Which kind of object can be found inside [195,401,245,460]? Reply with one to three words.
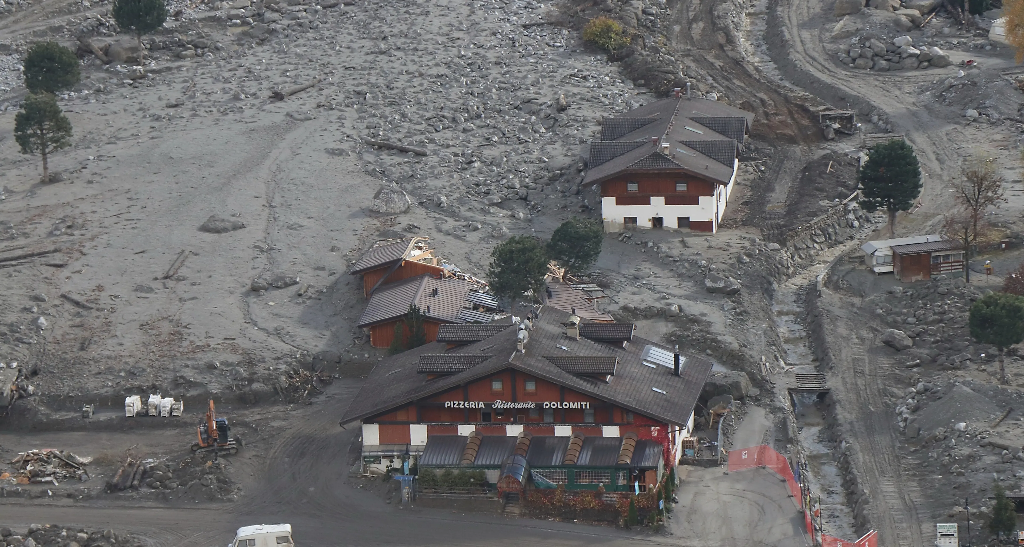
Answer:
work vehicle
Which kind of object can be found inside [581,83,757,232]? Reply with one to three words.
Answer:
house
